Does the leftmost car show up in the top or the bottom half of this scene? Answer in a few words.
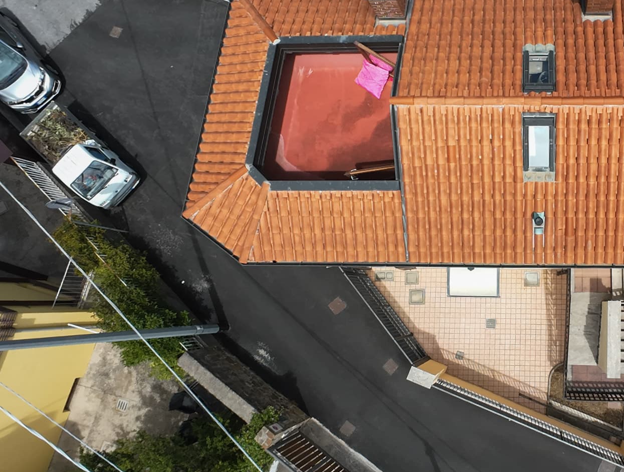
top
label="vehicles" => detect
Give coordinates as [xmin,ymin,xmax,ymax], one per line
[0,1,66,109]
[15,99,144,211]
